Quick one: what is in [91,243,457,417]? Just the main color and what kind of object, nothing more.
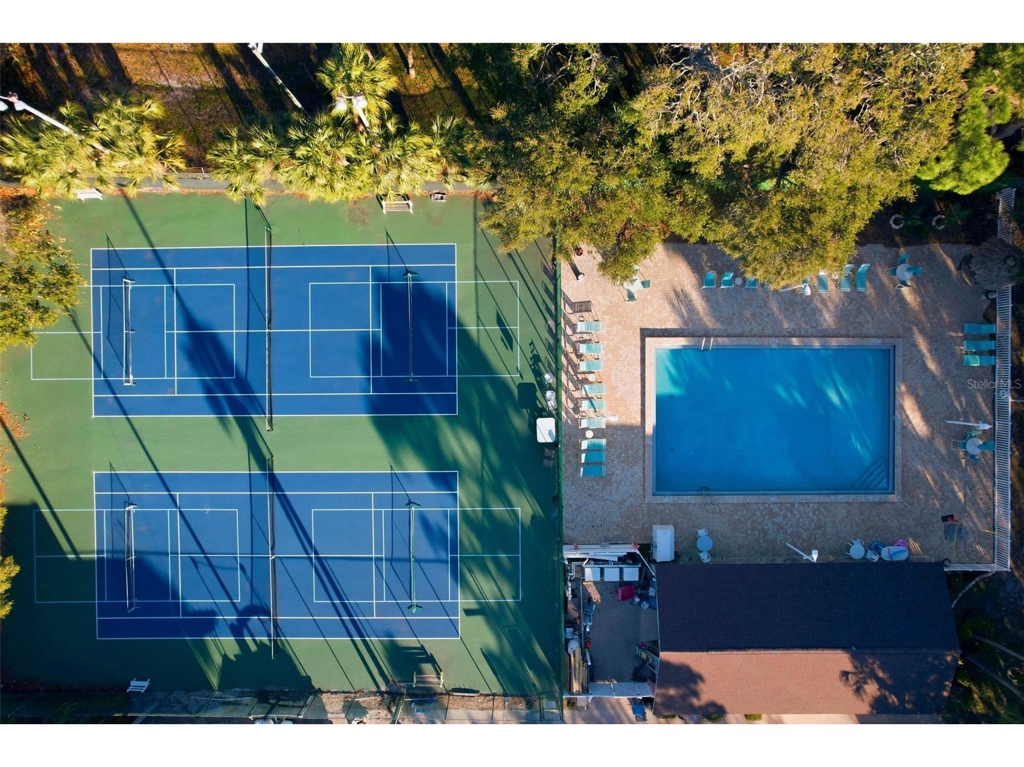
blue tennis court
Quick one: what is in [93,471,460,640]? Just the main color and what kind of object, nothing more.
blue tennis court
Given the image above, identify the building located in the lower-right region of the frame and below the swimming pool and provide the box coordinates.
[654,559,961,715]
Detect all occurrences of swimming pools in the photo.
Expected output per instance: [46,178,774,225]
[646,338,903,503]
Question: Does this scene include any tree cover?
Yes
